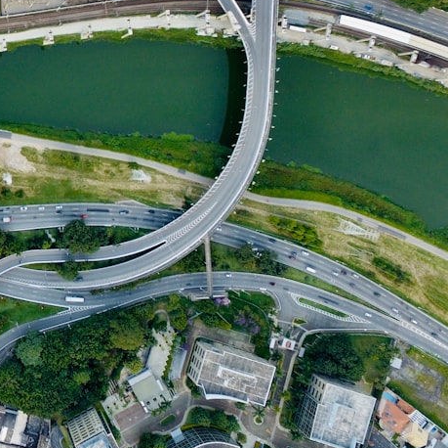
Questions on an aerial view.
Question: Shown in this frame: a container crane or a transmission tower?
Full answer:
There is a transmission tower in the scene.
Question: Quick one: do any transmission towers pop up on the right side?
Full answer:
Yes, a transmission tower shows up on the right side.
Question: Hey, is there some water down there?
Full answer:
Yes, some water is visible.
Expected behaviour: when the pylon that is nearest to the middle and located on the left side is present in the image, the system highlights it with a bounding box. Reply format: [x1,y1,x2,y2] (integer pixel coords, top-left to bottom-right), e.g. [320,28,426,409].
[129,166,148,185]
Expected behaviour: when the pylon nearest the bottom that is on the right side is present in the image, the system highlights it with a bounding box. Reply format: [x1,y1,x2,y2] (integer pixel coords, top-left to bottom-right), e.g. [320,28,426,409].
[341,240,388,272]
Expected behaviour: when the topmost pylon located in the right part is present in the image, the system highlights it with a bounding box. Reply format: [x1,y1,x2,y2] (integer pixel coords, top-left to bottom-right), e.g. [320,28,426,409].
[333,214,387,250]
